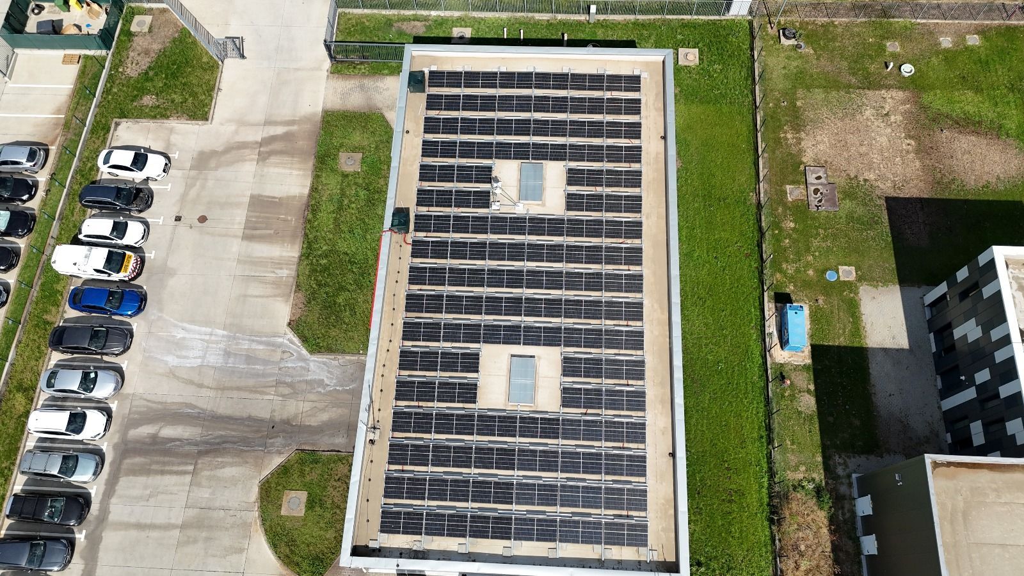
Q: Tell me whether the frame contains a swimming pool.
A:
No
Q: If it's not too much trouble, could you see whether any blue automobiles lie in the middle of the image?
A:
No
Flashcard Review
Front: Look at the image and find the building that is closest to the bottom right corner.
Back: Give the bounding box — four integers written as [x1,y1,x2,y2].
[849,452,1024,576]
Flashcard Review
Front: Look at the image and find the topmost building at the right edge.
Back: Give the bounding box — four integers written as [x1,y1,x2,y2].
[924,245,1024,456]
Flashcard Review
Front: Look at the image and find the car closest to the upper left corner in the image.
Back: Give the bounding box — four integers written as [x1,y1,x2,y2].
[0,145,49,176]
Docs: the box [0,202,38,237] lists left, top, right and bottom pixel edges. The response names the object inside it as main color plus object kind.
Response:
black car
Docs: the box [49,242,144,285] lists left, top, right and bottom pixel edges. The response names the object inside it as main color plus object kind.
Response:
white van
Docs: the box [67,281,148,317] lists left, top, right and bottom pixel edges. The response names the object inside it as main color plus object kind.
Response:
blue car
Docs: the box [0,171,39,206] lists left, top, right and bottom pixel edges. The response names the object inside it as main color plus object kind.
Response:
black car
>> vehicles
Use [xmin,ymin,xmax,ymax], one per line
[0,202,38,237]
[20,443,105,484]
[0,171,39,206]
[47,320,134,359]
[79,215,150,251]
[6,489,92,531]
[0,532,76,576]
[39,363,124,401]
[96,145,172,181]
[28,404,112,443]
[81,174,154,216]
[49,242,144,285]
[0,145,49,176]
[67,281,148,317]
